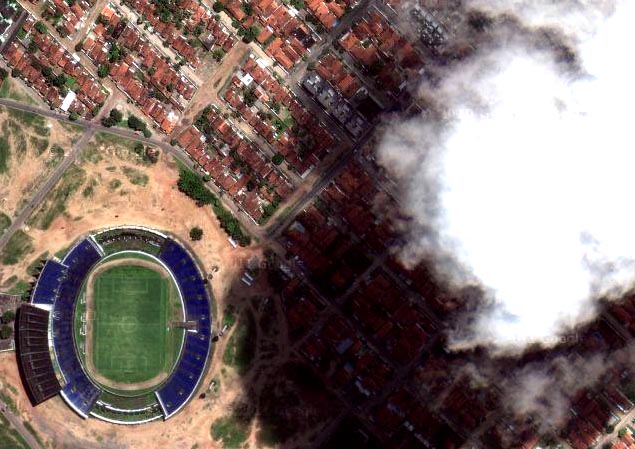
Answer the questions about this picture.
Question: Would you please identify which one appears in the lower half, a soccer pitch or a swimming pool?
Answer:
soccer pitch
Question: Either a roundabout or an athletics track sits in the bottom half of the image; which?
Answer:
athletics track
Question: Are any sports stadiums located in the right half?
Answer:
No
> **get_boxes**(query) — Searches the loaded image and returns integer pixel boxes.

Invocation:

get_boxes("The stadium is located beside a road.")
[18,226,212,424]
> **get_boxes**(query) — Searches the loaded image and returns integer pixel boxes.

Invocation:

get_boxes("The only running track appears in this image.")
[87,259,172,389]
